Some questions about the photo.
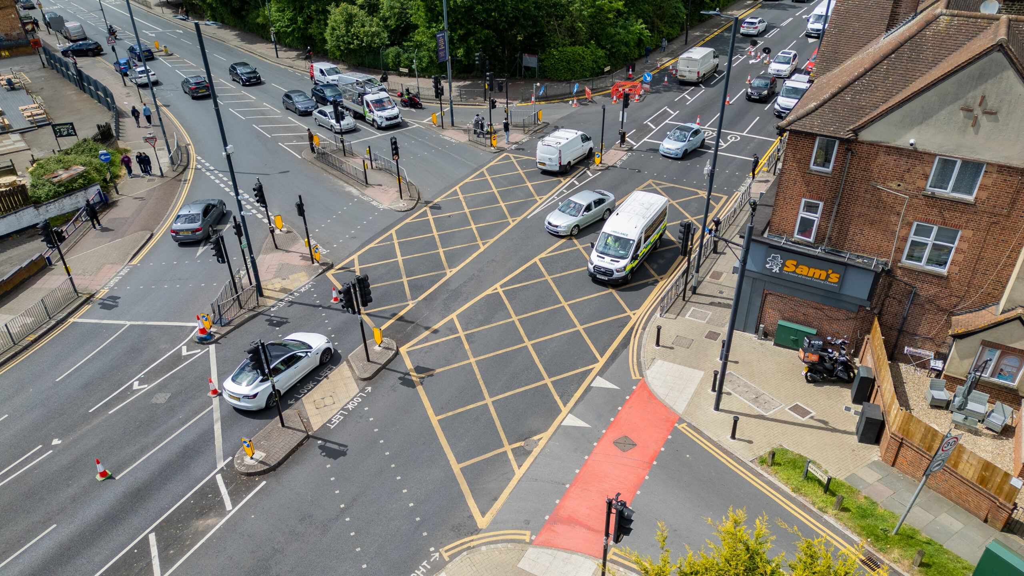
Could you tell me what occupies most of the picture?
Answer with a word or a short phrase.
paved ground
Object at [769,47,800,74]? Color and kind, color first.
white car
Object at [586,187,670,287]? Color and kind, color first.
white van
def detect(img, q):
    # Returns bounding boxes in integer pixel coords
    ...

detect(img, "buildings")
[0,0,38,63]
[728,0,1024,372]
